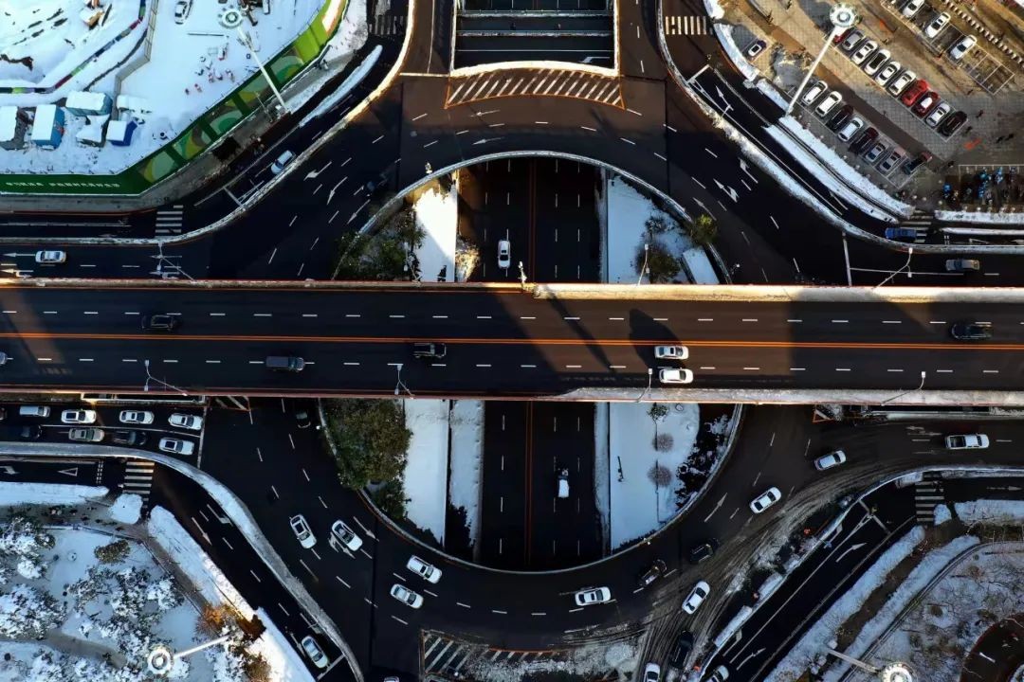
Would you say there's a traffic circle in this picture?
Yes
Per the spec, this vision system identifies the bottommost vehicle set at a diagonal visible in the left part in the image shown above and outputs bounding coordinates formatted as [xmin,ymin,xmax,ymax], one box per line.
[300,634,332,670]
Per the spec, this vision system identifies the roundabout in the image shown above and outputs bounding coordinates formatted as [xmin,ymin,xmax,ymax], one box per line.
[236,94,830,657]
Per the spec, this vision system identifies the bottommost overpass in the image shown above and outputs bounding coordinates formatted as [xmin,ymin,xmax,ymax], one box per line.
[0,279,1024,409]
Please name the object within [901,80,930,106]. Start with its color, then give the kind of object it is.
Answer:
red car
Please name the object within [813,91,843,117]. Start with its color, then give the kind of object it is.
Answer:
white car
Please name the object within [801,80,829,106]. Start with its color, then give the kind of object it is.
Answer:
white car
